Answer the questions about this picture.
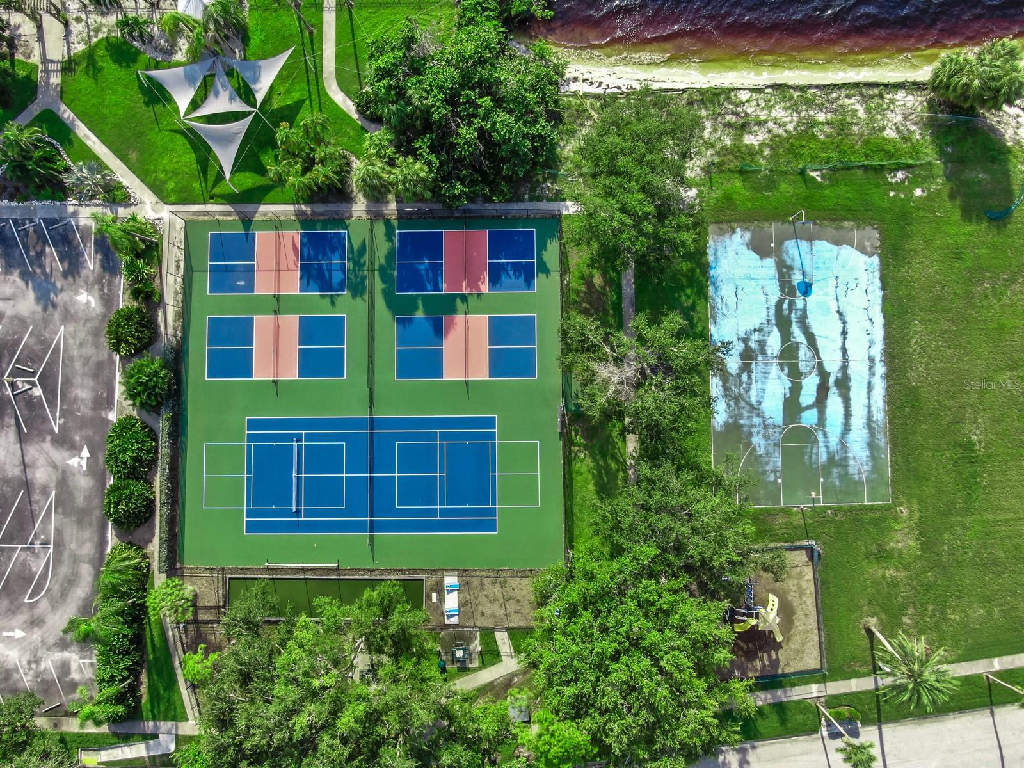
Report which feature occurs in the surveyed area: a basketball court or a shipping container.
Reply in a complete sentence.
Of the two, only a basketball court appears.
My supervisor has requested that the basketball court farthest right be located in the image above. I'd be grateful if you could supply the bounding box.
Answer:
[709,222,891,506]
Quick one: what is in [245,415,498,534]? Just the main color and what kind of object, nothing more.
blue tennis court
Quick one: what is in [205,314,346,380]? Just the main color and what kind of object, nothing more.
blue sports court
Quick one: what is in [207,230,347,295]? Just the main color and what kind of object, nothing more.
blue sports court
